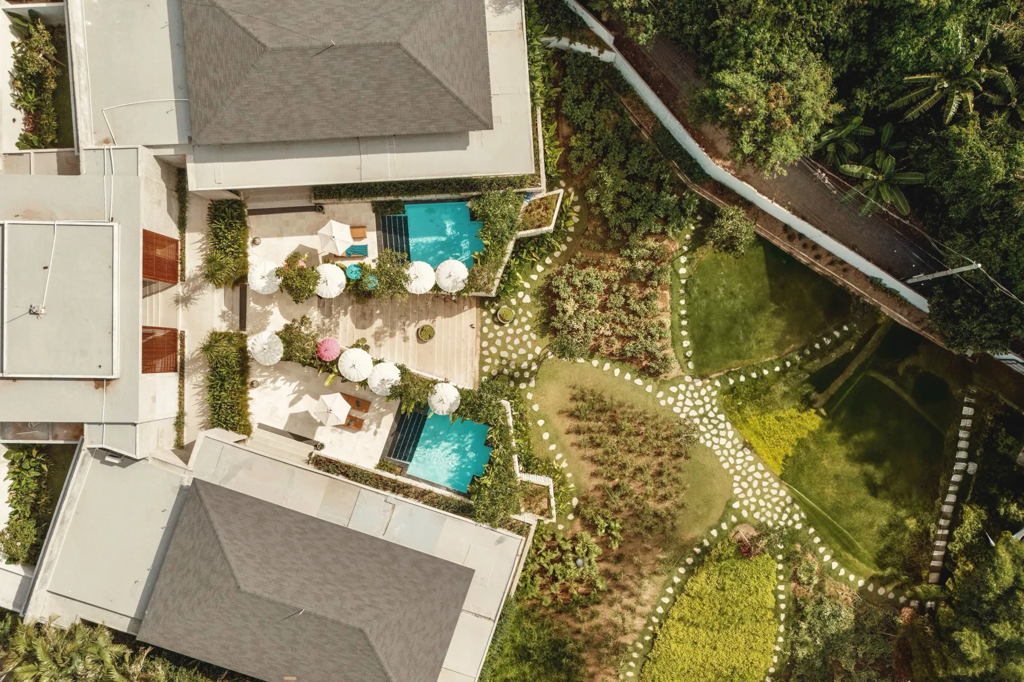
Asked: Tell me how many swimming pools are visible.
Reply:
two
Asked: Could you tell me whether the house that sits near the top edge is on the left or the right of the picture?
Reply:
left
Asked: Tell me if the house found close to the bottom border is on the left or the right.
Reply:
left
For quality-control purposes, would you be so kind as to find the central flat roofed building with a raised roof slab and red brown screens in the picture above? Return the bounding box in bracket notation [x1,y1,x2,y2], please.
[0,143,181,464]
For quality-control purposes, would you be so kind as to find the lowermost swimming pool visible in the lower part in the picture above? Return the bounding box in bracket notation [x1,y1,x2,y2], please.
[380,401,496,500]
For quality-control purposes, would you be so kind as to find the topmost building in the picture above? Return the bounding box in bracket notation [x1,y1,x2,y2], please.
[68,0,534,199]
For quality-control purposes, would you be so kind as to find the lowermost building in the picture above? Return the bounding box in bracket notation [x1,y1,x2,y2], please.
[23,430,525,682]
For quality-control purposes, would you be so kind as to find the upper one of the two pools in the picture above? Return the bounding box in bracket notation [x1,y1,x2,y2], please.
[375,198,485,273]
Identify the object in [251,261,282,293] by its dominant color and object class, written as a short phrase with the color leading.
white umbrella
